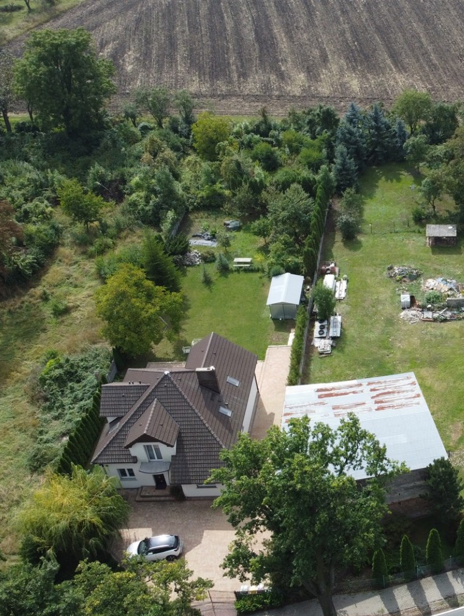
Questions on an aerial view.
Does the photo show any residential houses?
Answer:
Yes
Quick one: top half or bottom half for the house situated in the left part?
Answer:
bottom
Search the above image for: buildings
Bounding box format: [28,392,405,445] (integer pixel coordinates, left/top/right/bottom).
[281,372,445,524]
[266,271,303,318]
[427,225,456,248]
[87,330,259,510]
